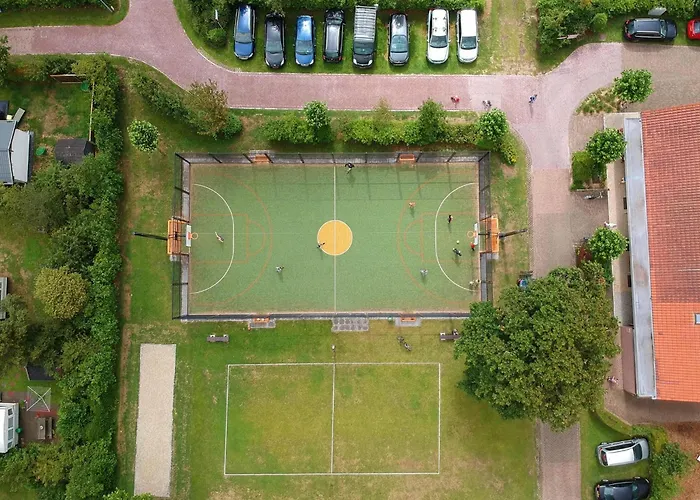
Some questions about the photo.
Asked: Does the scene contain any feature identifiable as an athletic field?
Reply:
Yes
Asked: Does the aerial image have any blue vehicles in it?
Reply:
Yes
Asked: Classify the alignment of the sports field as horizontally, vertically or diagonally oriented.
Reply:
horizontally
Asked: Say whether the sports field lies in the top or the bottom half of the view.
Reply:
bottom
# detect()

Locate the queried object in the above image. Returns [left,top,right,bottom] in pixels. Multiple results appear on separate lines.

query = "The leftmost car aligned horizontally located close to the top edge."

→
[621,17,677,41]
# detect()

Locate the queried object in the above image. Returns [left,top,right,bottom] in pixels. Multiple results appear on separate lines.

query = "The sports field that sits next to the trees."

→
[224,363,440,475]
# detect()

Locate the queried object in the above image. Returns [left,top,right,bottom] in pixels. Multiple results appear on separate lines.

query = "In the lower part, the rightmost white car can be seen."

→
[594,438,649,466]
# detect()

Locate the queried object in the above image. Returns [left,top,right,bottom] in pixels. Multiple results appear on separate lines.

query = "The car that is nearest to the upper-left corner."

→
[232,8,256,60]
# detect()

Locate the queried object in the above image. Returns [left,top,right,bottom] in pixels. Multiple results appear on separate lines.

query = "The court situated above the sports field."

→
[181,155,489,321]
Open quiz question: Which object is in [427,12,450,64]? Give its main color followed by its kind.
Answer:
white car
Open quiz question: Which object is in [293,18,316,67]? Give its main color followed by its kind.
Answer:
blue car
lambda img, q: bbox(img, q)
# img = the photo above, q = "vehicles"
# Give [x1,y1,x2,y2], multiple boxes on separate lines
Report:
[594,438,649,466]
[621,17,677,41]
[321,10,345,64]
[427,12,450,64]
[455,12,479,64]
[232,8,256,60]
[293,18,316,67]
[262,16,286,69]
[388,16,411,66]
[352,1,377,69]
[684,19,700,41]
[592,478,651,500]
